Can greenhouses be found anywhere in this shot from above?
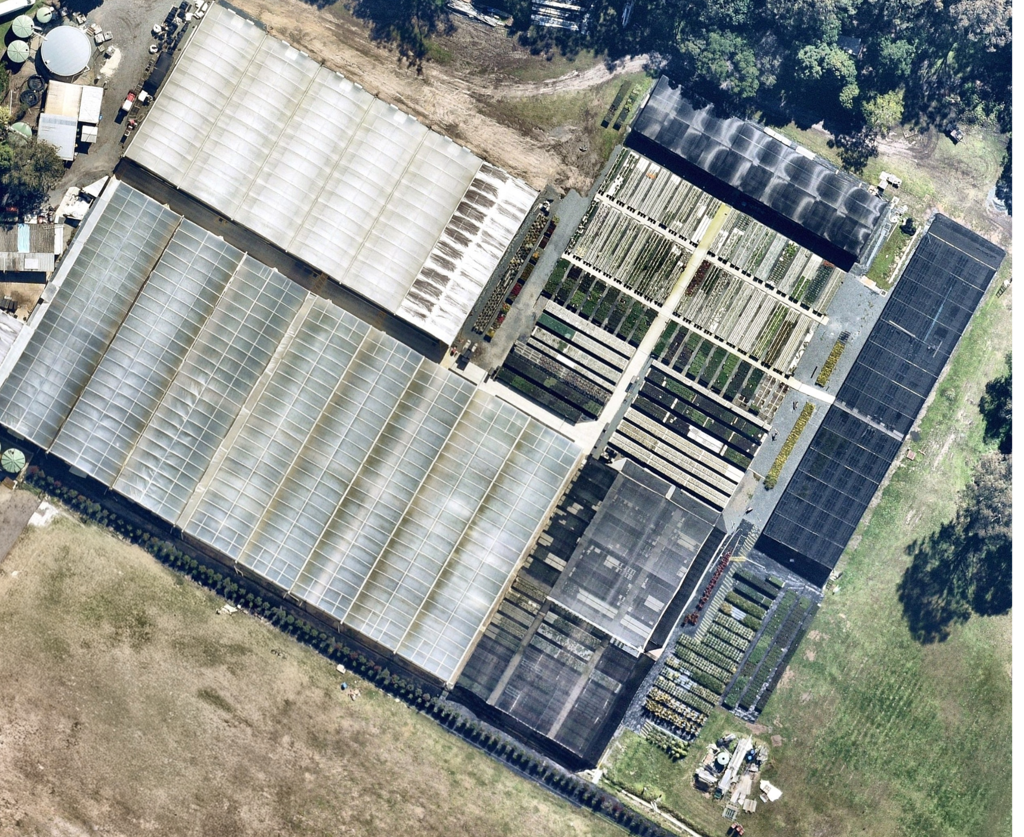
Yes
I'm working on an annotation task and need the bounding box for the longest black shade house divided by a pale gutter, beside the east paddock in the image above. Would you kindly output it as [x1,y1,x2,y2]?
[762,221,1002,573]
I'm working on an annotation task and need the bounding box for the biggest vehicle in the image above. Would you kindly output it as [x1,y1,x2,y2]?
[119,90,138,114]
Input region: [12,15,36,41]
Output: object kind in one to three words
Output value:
water tank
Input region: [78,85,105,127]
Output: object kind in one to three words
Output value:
shed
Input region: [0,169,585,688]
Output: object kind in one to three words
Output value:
greenhouse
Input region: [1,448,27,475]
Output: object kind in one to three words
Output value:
water tank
